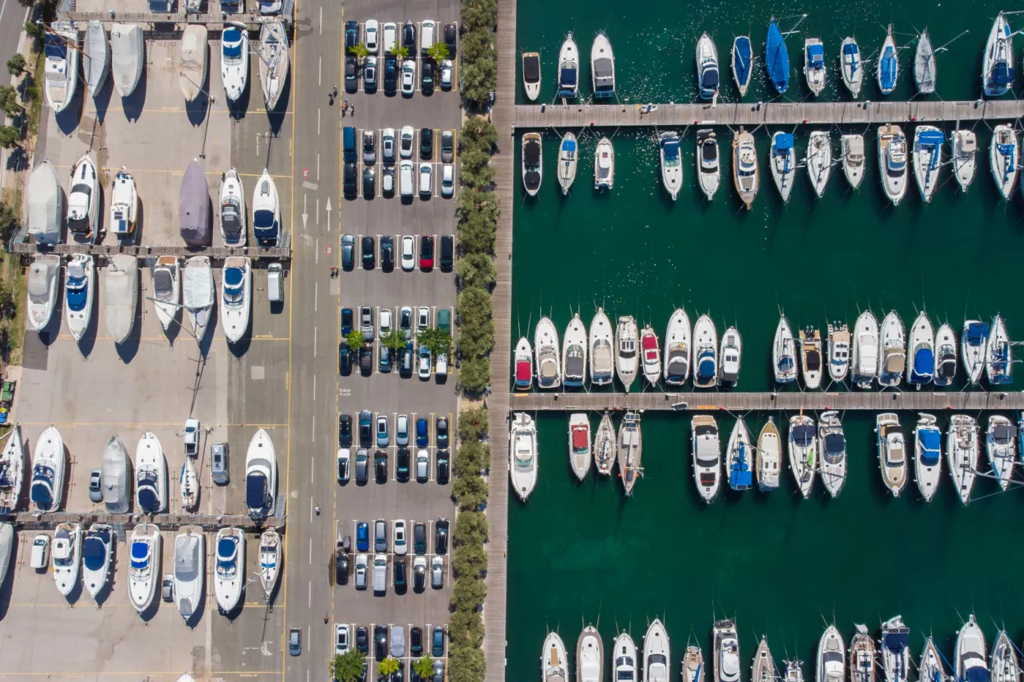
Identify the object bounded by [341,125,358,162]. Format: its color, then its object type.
blue vehicle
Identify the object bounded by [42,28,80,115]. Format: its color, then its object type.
white boat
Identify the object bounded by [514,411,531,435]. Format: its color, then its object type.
white boat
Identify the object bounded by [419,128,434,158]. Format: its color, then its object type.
black car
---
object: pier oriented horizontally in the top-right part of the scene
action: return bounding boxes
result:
[516,100,1024,128]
